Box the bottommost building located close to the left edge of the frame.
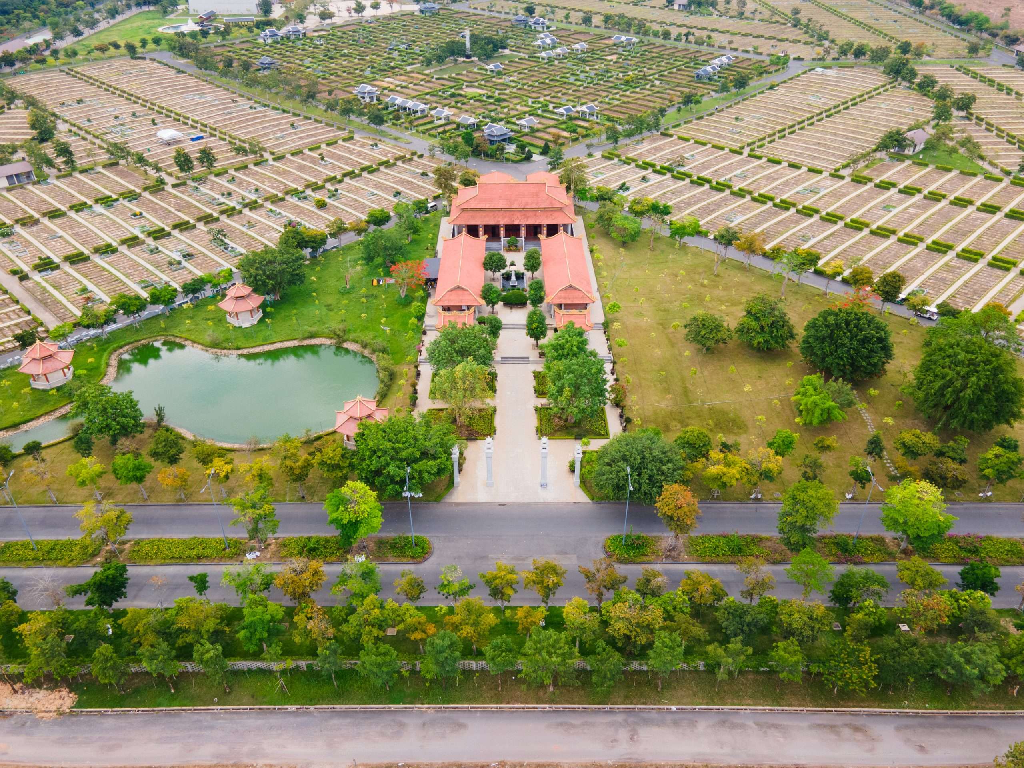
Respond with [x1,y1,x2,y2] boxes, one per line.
[10,334,78,385]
